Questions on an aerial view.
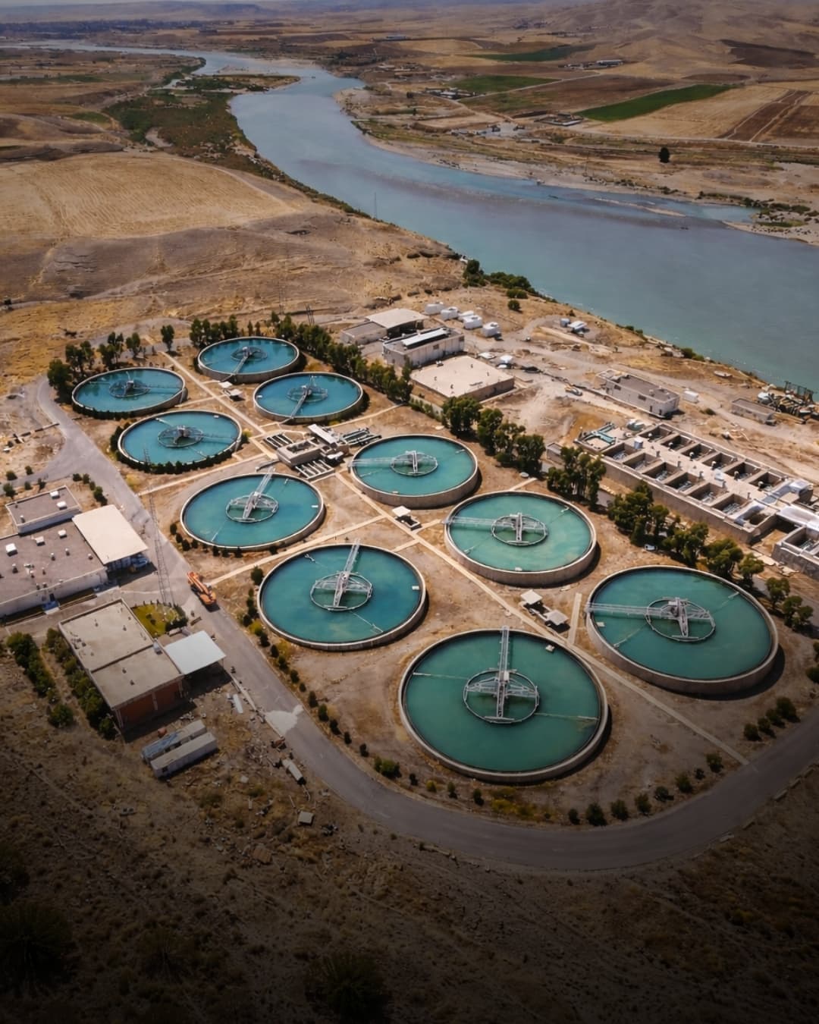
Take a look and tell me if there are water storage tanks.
Yes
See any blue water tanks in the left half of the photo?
Yes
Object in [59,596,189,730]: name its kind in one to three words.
building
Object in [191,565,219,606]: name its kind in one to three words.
work vehicle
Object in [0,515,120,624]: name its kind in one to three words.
building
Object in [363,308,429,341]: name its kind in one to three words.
shed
